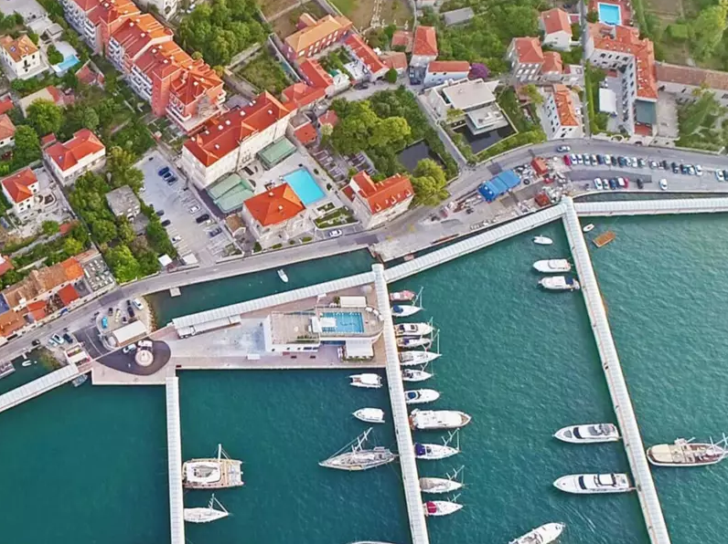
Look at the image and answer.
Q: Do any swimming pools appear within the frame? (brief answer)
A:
Yes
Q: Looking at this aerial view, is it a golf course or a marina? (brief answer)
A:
marina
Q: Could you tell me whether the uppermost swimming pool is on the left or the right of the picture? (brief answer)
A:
right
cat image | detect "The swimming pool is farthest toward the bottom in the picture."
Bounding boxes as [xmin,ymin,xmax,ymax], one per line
[322,312,365,333]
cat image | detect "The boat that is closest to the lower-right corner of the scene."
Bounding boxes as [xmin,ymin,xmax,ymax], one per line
[646,438,728,464]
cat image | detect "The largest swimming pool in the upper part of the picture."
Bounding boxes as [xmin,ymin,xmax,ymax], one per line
[283,166,327,205]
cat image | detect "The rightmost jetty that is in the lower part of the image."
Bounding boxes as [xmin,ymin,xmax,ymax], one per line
[562,198,673,544]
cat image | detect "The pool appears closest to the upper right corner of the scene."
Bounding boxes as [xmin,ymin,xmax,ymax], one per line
[598,2,623,24]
